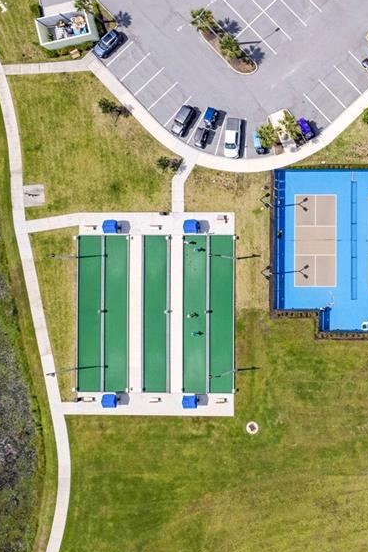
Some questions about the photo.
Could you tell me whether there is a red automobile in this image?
No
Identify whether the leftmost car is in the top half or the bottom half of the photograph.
top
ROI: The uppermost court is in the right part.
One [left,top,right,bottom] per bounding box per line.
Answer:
[290,195,339,287]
